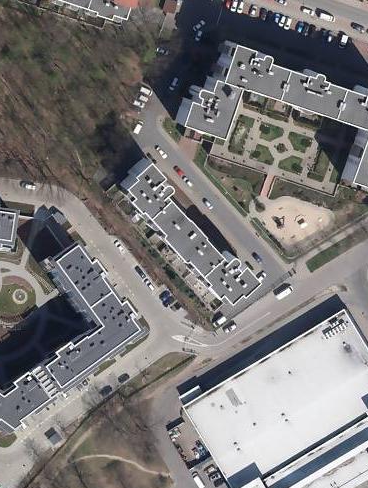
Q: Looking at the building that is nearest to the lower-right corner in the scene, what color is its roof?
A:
white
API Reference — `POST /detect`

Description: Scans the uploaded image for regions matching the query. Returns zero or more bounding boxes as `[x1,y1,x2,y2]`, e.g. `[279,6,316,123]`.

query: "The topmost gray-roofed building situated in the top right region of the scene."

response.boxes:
[176,42,368,187]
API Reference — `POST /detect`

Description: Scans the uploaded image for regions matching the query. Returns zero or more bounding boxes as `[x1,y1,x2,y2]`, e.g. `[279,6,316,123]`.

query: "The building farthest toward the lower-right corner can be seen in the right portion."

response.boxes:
[179,310,368,488]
